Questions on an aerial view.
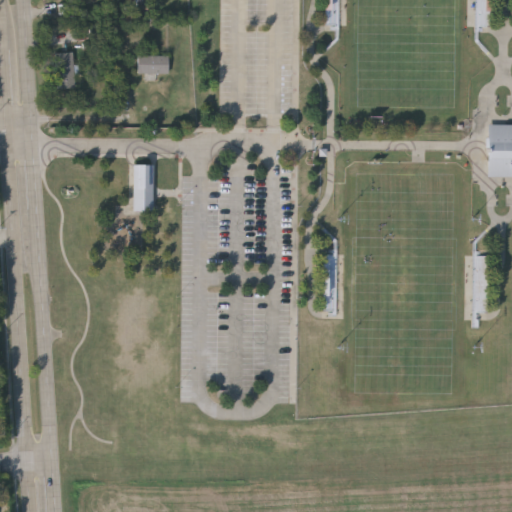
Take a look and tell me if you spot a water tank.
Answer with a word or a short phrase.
No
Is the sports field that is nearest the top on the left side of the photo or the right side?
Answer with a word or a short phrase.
right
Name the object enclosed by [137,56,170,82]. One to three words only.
house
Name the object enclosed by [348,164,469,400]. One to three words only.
sports field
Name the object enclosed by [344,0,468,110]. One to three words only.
sports field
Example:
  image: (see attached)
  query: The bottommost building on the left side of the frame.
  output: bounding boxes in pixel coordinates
[133,164,154,212]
